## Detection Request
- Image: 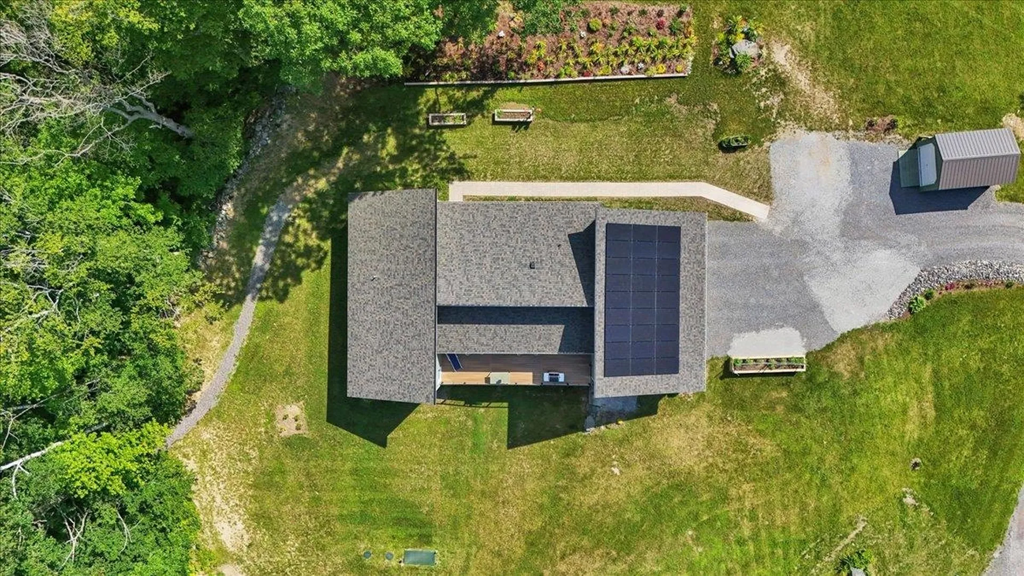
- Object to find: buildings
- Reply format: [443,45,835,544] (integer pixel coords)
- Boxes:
[347,188,708,404]
[898,128,1020,192]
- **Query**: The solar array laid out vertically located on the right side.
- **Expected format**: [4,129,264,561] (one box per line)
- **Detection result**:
[604,224,681,377]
